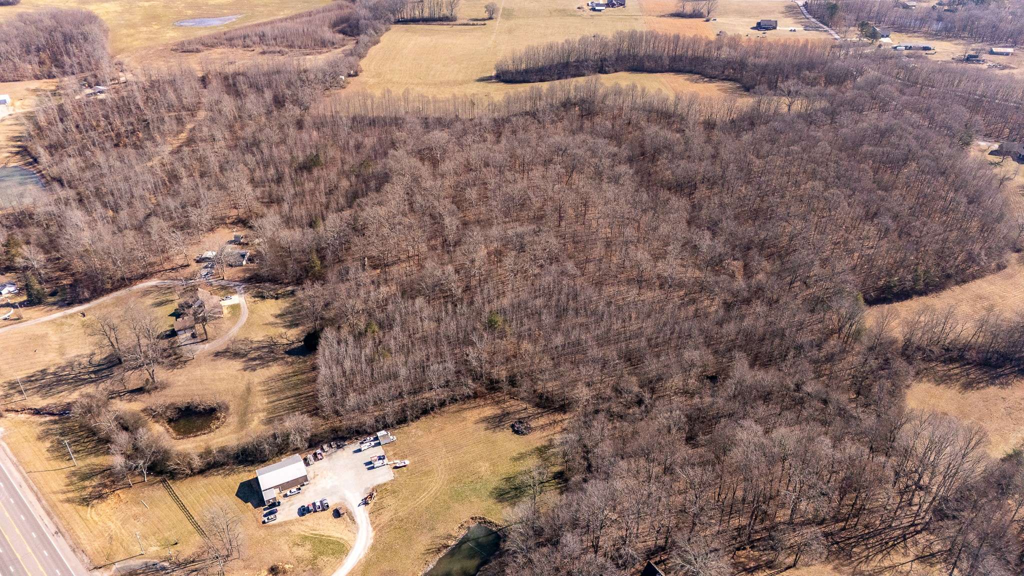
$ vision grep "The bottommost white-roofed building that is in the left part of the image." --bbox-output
[254,453,307,505]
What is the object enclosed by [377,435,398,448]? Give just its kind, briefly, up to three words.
vehicle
